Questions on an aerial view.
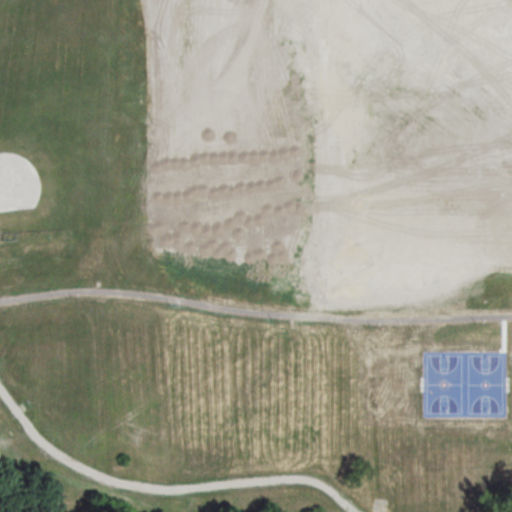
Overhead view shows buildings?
No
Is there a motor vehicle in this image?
No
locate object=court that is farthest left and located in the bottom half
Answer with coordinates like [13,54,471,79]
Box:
[424,352,466,419]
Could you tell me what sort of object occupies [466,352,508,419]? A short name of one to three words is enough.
basketball court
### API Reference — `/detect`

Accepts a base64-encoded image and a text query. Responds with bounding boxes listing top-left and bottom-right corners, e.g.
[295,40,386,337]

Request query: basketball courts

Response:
[424,352,466,419]
[466,352,508,419]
